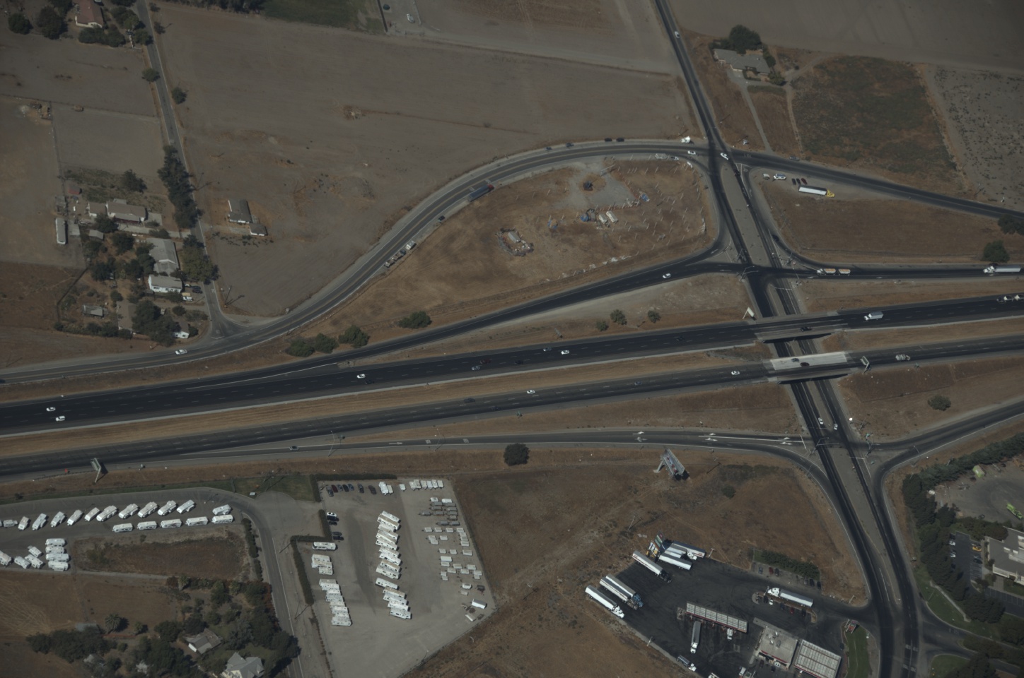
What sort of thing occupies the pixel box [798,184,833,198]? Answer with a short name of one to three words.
vehicle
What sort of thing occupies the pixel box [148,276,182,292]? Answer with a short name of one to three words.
house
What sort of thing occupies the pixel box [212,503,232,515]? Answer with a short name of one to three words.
vehicle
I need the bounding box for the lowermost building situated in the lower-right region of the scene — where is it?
[757,627,806,674]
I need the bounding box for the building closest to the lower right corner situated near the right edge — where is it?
[990,544,1024,592]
